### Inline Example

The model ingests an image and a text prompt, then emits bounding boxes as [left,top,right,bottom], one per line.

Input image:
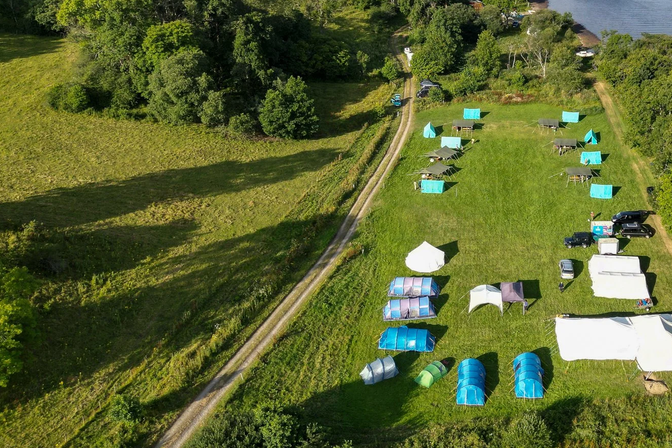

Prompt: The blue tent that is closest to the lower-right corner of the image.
[504,350,552,403]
